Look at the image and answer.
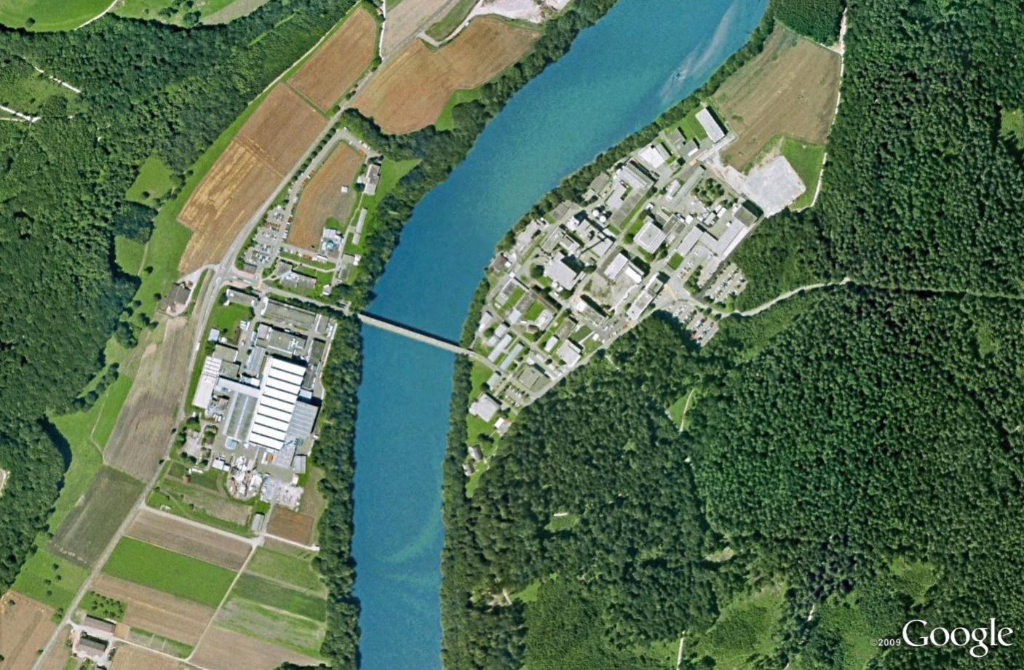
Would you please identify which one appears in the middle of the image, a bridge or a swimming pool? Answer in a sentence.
What appears in the middle of the image is a bridge.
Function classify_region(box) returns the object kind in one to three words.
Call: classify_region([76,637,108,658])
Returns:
house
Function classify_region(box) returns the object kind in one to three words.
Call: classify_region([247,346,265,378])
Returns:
building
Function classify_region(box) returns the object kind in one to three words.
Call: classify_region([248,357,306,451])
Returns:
building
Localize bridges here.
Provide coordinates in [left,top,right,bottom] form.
[354,314,469,356]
